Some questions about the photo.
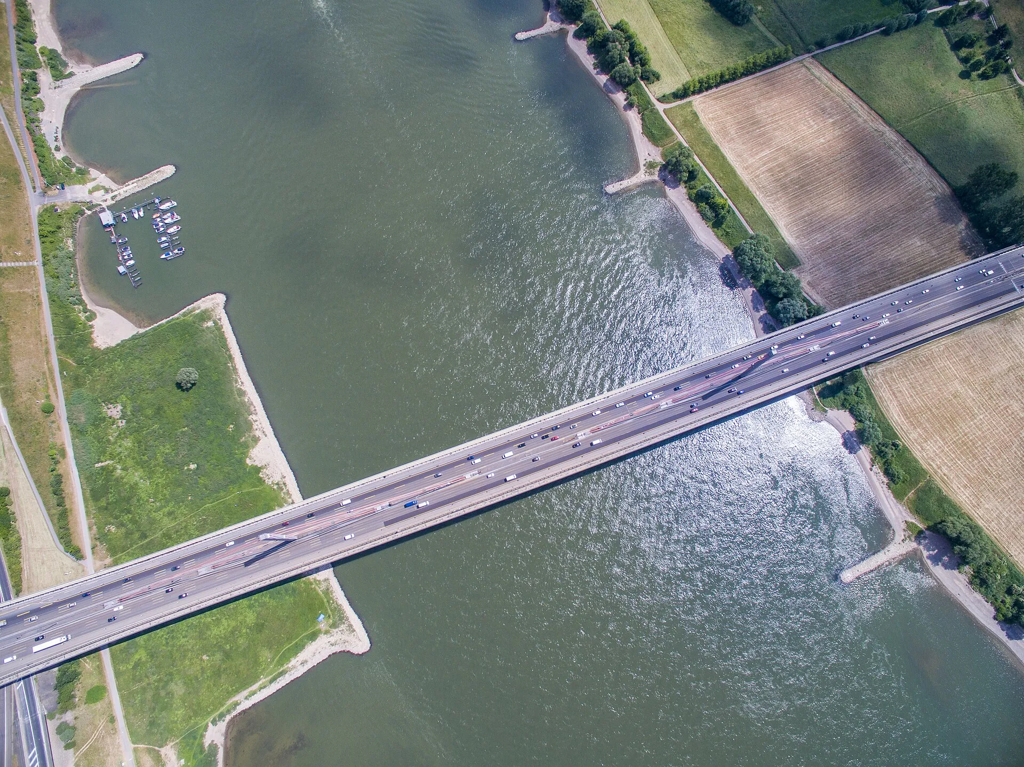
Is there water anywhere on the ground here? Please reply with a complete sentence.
Yes, water can be seen from above here.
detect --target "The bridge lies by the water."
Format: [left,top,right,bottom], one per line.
[0,243,1024,689]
